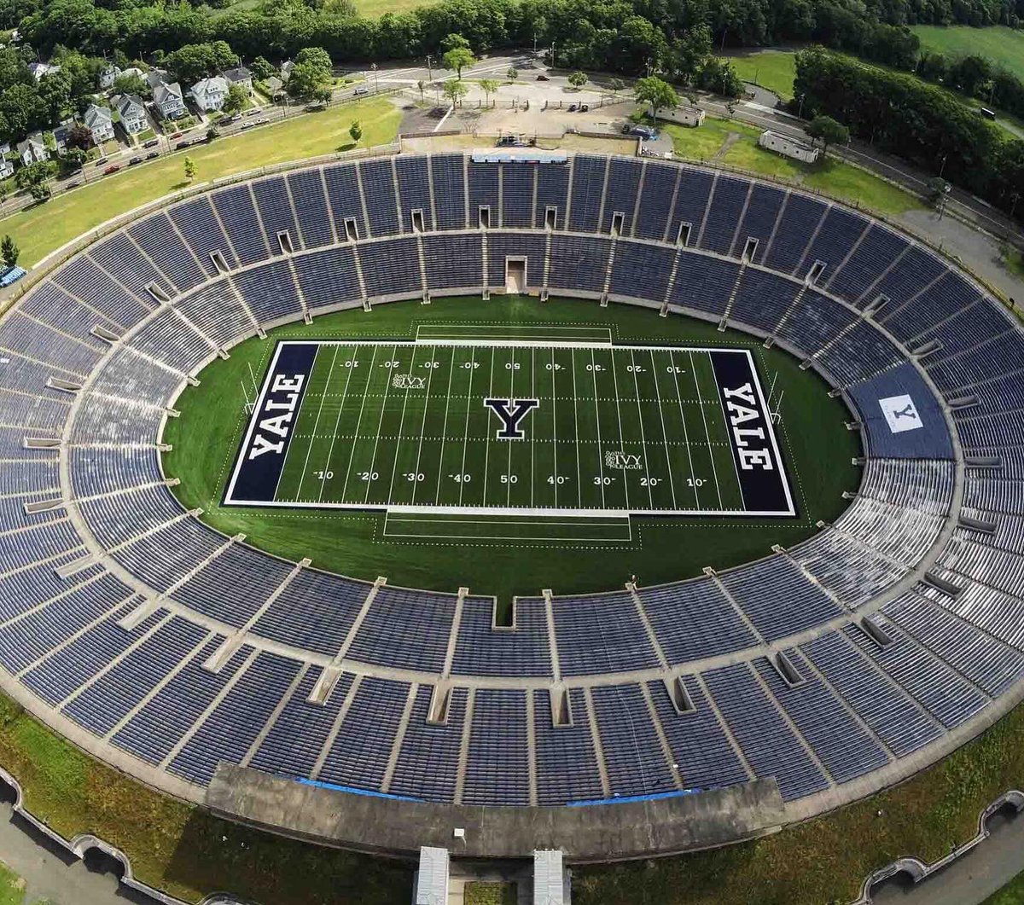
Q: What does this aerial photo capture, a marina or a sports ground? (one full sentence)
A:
This looks like a sports ground.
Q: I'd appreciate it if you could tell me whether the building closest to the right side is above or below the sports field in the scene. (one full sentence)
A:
The building closest to the right side is located above the sports field in this view.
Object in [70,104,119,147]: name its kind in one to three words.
house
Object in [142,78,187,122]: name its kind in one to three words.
house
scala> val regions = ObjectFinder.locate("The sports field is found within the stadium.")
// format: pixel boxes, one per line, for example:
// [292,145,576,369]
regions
[158,292,865,630]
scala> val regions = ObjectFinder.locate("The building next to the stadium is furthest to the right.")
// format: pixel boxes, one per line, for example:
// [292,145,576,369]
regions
[760,128,817,163]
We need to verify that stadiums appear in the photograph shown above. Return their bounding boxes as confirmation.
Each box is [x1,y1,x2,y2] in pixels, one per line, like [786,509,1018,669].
[0,148,1024,826]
